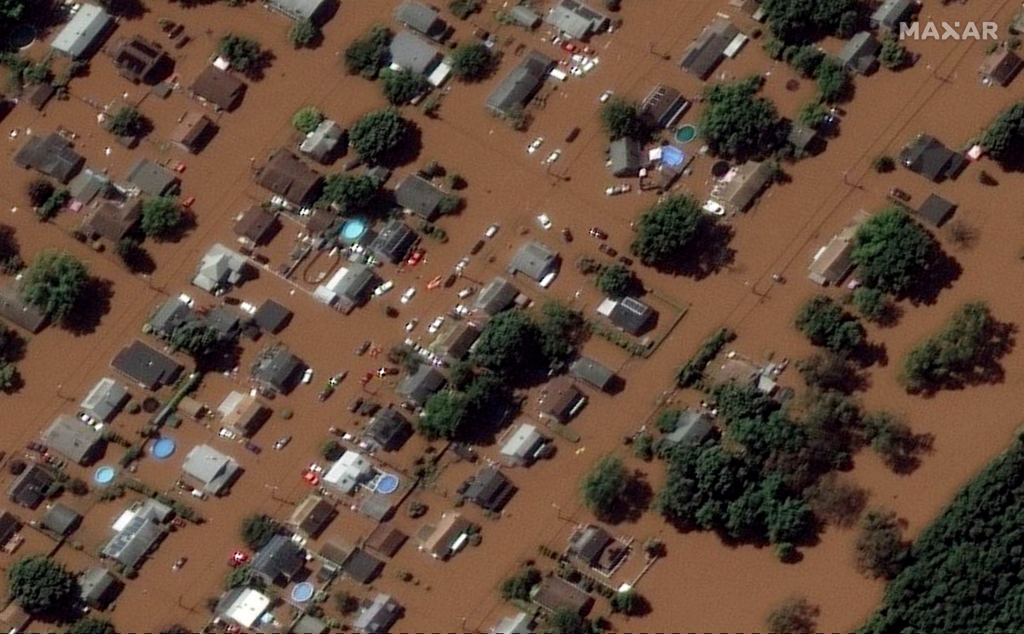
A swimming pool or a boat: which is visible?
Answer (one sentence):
Of the two, only a swimming pool appears.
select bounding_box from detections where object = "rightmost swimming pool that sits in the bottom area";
[378,474,398,495]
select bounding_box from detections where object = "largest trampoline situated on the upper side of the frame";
[712,161,730,177]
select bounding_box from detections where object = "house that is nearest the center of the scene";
[475,278,516,314]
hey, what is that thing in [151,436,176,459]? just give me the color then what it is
blue swimming pool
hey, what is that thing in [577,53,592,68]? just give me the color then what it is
white car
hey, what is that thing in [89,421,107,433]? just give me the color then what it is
white vehicle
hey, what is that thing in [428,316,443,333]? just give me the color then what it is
white vehicle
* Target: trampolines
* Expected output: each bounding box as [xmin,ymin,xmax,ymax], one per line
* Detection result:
[712,161,730,177]
[786,78,800,90]
[142,397,158,411]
